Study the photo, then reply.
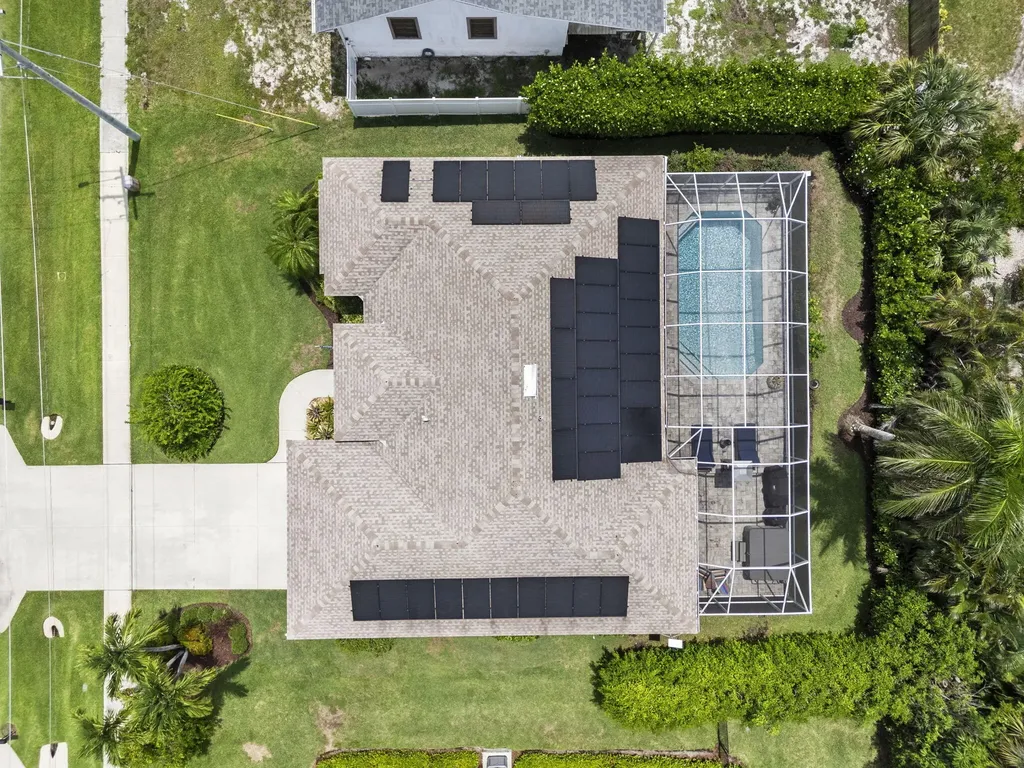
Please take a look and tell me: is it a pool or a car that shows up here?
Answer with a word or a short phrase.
pool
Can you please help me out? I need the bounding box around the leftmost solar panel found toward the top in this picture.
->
[380,161,411,202]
